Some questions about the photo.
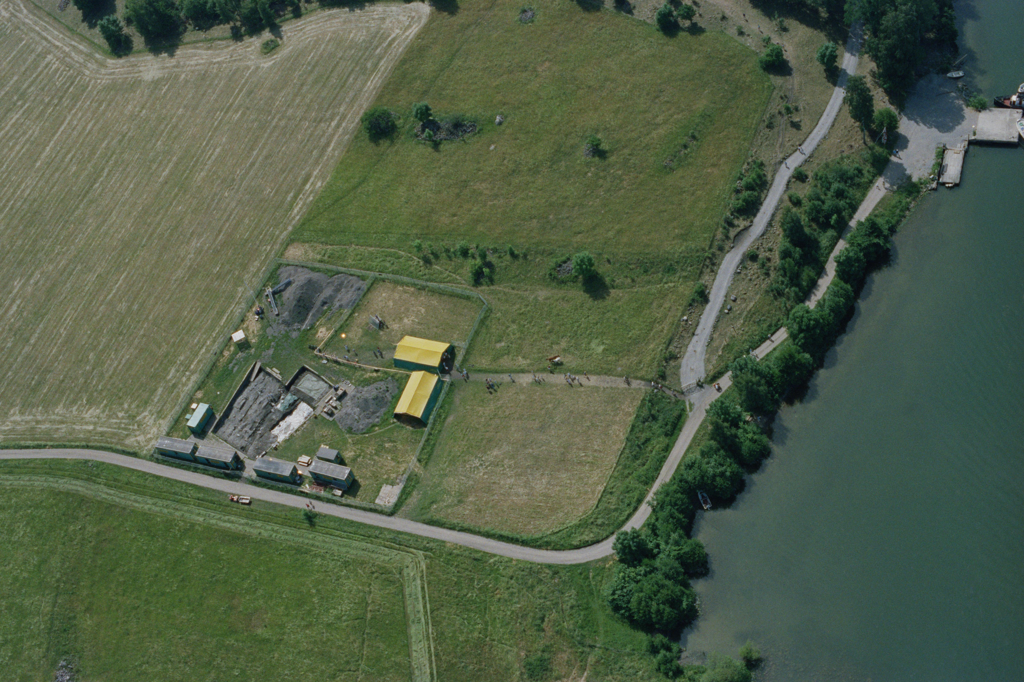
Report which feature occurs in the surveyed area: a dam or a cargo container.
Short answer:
cargo container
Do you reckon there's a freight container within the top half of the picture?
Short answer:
No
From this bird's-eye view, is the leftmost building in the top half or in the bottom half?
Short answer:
bottom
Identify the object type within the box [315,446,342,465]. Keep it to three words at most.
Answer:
building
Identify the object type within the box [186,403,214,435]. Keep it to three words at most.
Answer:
shipping container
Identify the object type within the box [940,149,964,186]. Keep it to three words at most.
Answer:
pier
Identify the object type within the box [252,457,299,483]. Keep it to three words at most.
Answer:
building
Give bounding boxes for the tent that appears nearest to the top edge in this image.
[394,336,452,373]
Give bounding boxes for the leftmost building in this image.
[154,436,198,461]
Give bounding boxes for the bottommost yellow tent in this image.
[394,371,441,424]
